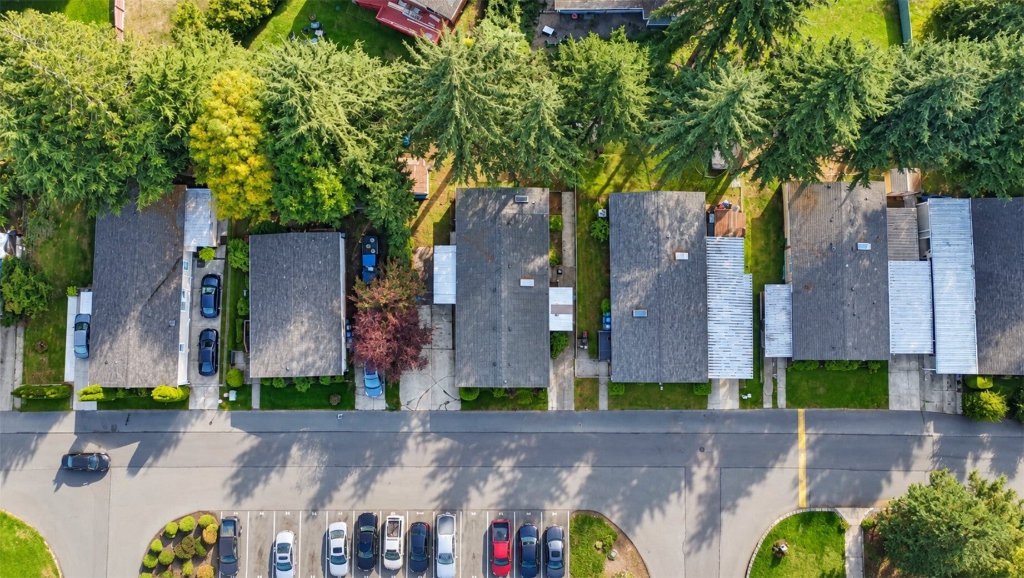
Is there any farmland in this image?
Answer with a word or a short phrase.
No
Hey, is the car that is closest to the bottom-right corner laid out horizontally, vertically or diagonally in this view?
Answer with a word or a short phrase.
vertically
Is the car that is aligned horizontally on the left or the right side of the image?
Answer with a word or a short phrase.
left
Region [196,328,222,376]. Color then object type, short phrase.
blue car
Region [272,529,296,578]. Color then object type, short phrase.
white car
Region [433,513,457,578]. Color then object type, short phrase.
white truck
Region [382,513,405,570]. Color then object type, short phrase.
white truck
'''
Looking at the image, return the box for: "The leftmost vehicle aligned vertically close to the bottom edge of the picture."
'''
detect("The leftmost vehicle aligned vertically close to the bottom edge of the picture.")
[216,515,243,574]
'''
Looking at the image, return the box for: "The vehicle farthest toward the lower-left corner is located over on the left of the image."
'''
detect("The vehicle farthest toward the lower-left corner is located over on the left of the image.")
[62,451,114,473]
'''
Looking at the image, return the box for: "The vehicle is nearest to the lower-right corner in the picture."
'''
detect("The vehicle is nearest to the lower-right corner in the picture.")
[543,525,566,576]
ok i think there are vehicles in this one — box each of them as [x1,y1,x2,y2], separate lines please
[355,513,379,567]
[198,274,224,318]
[517,523,540,575]
[490,518,513,575]
[407,522,430,572]
[62,451,114,473]
[216,515,243,574]
[382,513,405,570]
[433,513,457,578]
[69,312,90,358]
[358,232,381,286]
[362,361,384,401]
[325,522,349,573]
[543,525,566,576]
[196,328,222,376]
[272,529,296,578]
